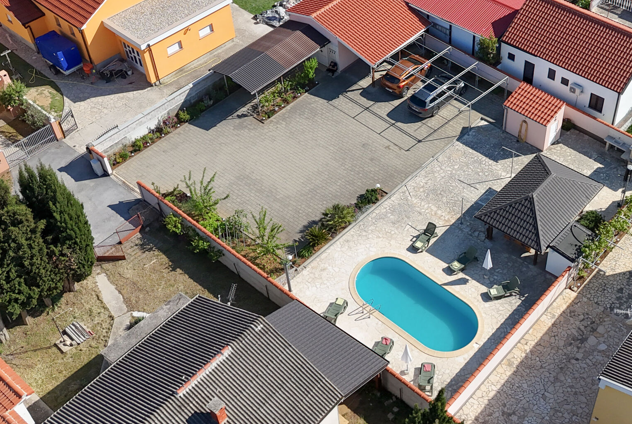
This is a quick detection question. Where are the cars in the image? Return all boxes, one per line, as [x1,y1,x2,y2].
[379,54,439,97]
[404,71,470,119]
